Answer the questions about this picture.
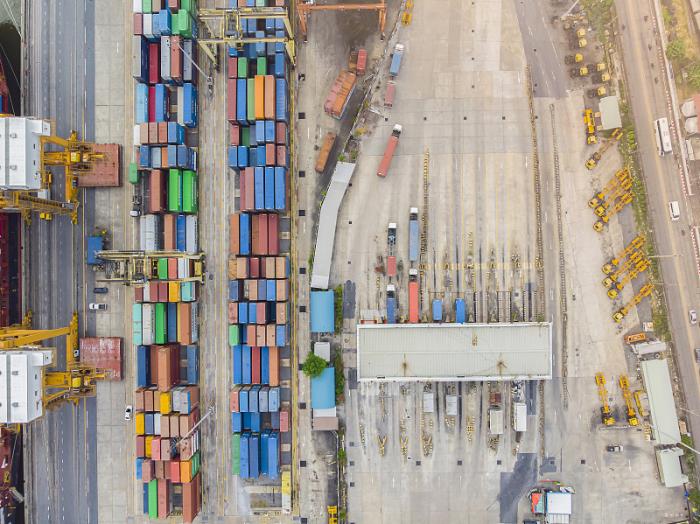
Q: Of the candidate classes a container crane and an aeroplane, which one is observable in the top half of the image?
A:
container crane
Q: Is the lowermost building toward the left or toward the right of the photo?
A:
right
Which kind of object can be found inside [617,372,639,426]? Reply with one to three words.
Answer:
work vehicle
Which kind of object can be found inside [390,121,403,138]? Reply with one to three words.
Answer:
vehicle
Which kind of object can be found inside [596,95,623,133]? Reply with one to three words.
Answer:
shed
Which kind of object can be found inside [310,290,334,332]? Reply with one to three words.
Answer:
shed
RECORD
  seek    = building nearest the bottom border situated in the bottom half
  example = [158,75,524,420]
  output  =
[654,445,688,488]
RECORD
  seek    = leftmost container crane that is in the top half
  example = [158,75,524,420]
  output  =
[0,108,119,223]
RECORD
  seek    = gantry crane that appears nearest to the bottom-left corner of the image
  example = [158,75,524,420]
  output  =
[0,316,119,430]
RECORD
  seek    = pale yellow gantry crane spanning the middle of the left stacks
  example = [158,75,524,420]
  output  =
[96,247,205,290]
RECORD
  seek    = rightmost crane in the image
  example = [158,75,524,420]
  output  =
[292,0,390,43]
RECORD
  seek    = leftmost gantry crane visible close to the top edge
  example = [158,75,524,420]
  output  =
[198,4,296,70]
